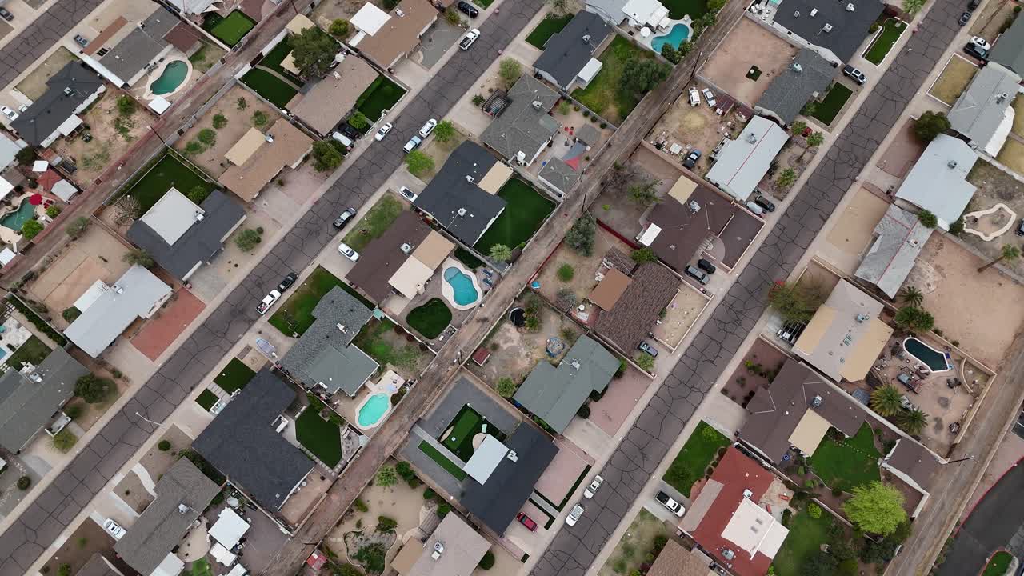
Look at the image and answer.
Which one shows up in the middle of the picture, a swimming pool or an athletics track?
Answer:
swimming pool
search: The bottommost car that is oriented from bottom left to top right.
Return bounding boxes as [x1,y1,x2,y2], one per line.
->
[565,502,584,527]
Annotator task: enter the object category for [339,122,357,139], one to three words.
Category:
car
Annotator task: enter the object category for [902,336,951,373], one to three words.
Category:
swimming pool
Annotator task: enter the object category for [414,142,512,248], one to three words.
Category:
house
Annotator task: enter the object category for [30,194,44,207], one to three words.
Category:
umbrella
